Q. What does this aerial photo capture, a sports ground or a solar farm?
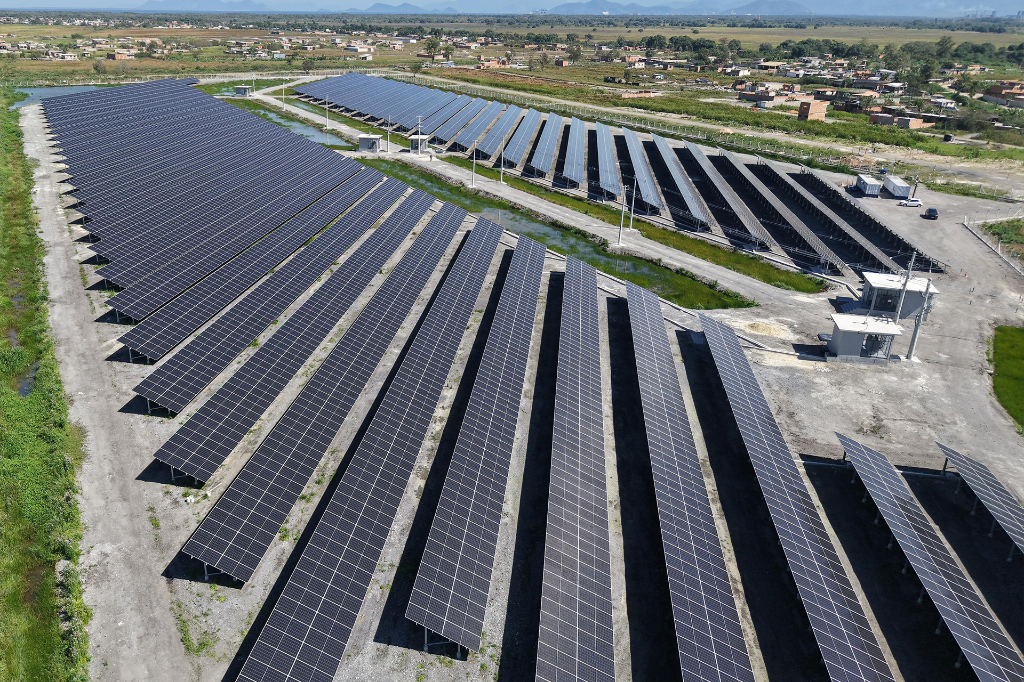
solar farm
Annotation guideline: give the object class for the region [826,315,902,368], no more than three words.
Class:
building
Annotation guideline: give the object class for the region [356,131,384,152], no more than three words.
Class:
building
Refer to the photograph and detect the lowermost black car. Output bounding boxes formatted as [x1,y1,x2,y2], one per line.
[924,206,938,220]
